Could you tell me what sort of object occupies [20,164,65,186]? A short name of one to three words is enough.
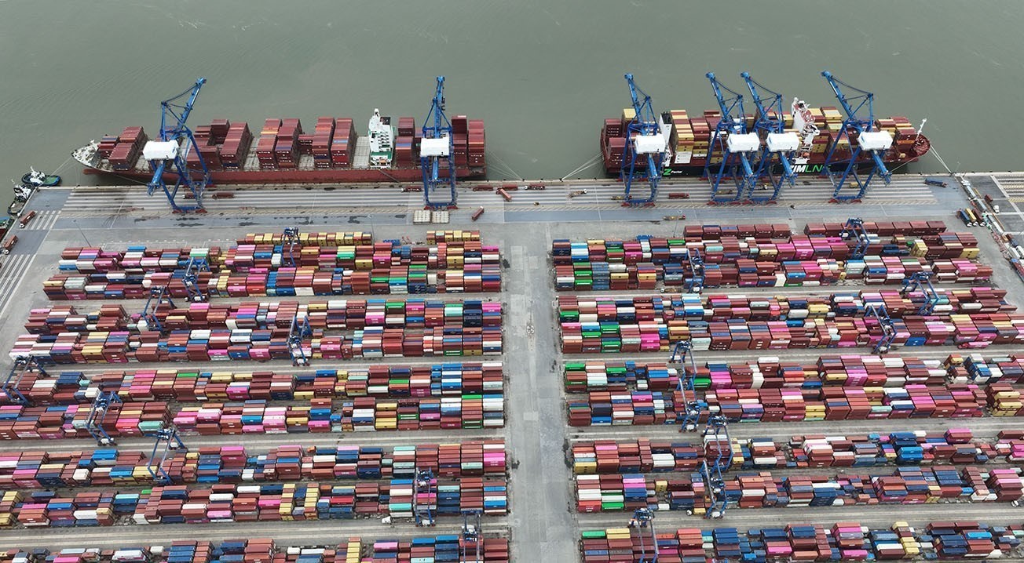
boat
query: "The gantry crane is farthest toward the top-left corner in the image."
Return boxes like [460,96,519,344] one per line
[149,79,215,212]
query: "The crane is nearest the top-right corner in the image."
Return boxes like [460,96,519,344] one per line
[818,72,890,202]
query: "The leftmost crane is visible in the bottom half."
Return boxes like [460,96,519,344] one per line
[0,356,43,409]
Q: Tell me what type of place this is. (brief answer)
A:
port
